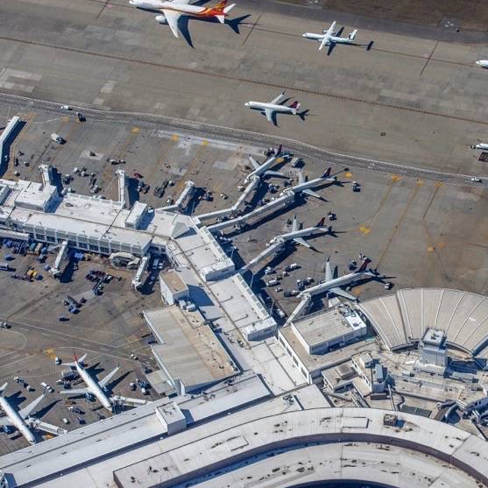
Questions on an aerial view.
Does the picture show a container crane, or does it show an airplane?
airplane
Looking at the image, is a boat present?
No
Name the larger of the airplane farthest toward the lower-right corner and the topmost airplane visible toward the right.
the airplane farthest toward the lower-right corner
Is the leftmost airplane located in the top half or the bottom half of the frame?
bottom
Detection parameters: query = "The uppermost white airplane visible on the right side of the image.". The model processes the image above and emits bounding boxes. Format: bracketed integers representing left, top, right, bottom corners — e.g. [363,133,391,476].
[300,22,355,51]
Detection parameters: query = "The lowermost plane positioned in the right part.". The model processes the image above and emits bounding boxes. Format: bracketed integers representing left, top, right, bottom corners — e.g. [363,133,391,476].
[295,253,382,303]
